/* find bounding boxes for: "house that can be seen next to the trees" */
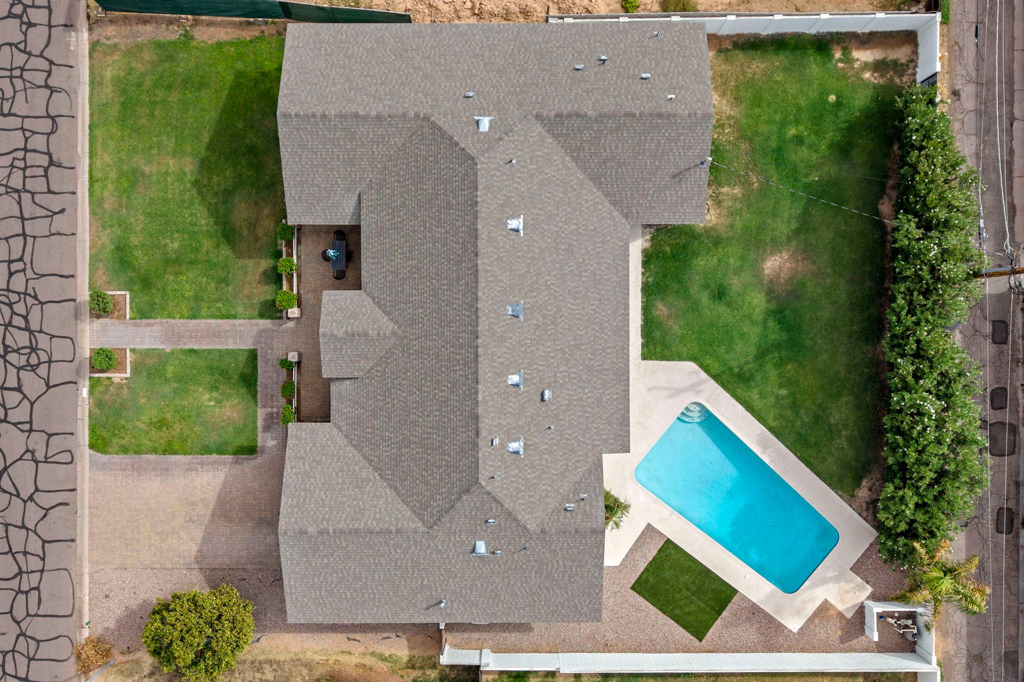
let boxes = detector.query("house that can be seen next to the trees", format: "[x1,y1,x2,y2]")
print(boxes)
[277,22,714,623]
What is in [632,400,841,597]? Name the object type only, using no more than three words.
swimming pool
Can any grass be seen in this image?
Yes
